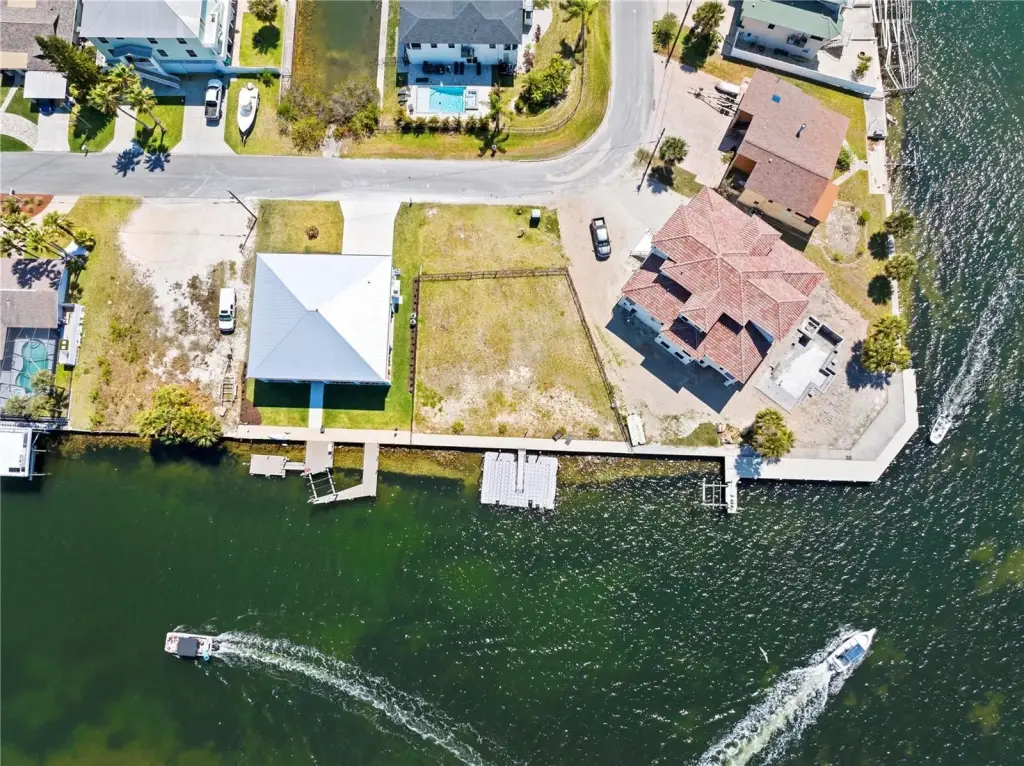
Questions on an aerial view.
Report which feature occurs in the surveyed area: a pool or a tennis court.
pool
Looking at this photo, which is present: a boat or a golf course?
boat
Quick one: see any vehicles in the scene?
Yes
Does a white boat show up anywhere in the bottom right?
Yes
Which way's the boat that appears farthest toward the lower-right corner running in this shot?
diagonally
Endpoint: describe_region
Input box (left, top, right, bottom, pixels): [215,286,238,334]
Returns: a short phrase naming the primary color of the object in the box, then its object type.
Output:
white vehicle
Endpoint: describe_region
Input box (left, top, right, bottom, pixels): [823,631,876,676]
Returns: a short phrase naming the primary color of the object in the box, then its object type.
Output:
white boat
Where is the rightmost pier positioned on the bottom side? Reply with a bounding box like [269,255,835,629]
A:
[722,459,739,513]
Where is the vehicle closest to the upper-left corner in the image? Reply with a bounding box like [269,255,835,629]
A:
[36,99,55,115]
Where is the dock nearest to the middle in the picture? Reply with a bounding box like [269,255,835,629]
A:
[480,452,557,509]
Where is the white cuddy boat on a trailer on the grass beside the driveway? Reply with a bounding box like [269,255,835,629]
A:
[237,76,255,130]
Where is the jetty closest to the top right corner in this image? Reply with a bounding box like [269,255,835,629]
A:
[877,0,919,95]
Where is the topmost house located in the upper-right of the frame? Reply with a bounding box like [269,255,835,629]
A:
[732,0,849,60]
